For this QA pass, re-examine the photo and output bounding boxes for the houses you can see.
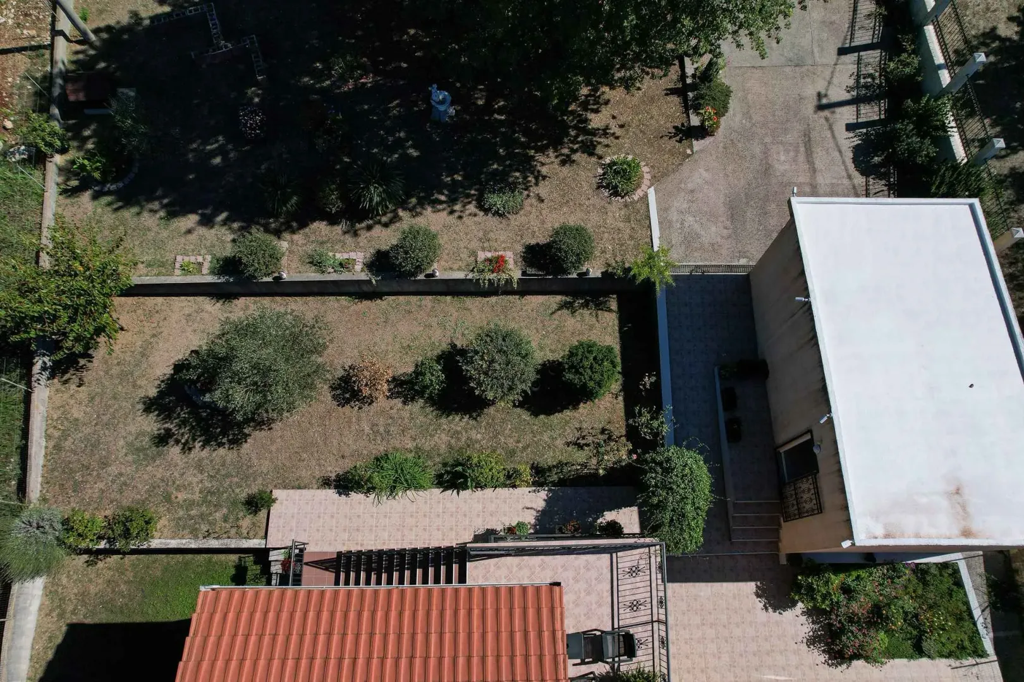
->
[166,576,572,682]
[750,197,1024,554]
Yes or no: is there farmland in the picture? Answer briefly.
No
